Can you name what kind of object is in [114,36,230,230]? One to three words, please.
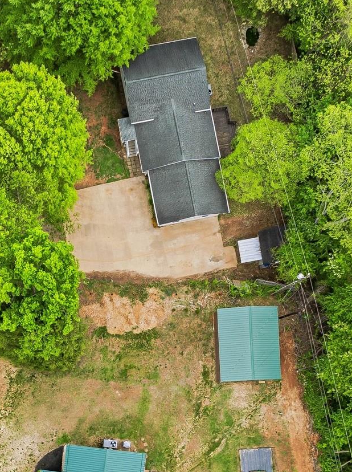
house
